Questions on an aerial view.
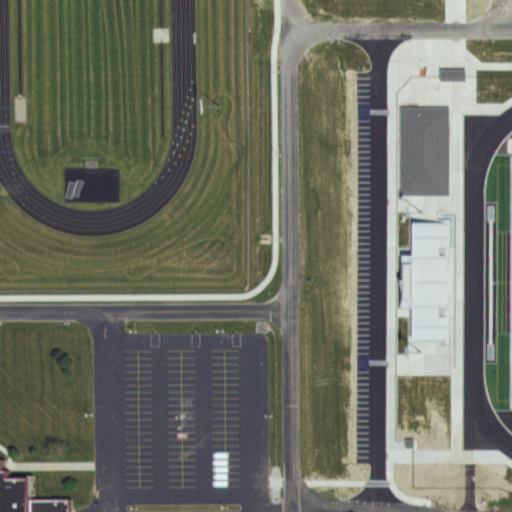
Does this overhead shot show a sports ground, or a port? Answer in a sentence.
What you see here is a sports ground.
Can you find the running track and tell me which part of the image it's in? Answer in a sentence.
The running track is located in the top left region of the scene.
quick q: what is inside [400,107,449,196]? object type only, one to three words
building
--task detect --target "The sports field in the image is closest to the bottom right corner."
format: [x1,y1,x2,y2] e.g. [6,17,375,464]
[486,134,512,411]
